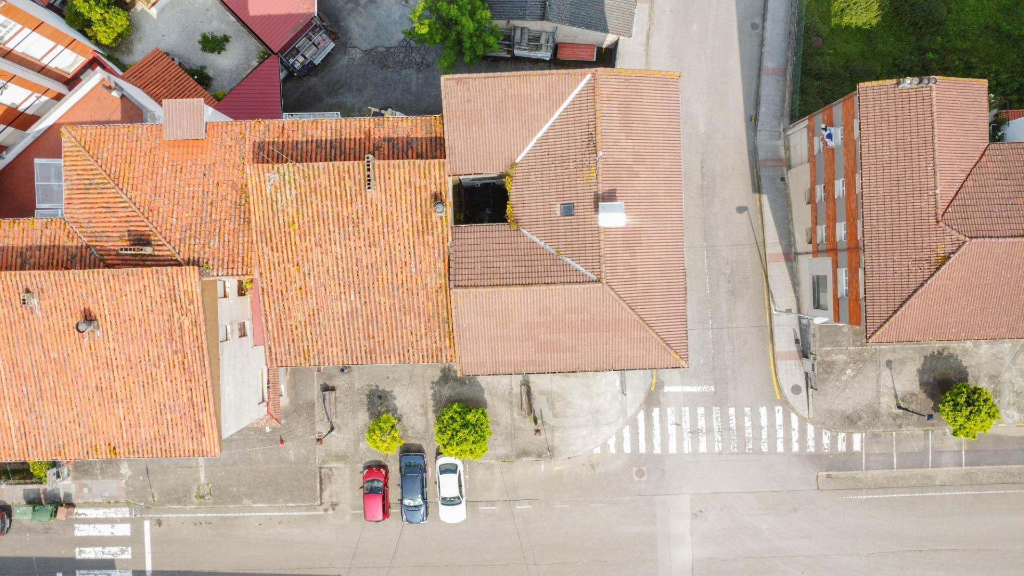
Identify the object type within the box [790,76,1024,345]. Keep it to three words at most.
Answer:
building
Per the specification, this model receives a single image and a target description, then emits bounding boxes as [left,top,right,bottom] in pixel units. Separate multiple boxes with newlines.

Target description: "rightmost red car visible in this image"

[361,464,391,522]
